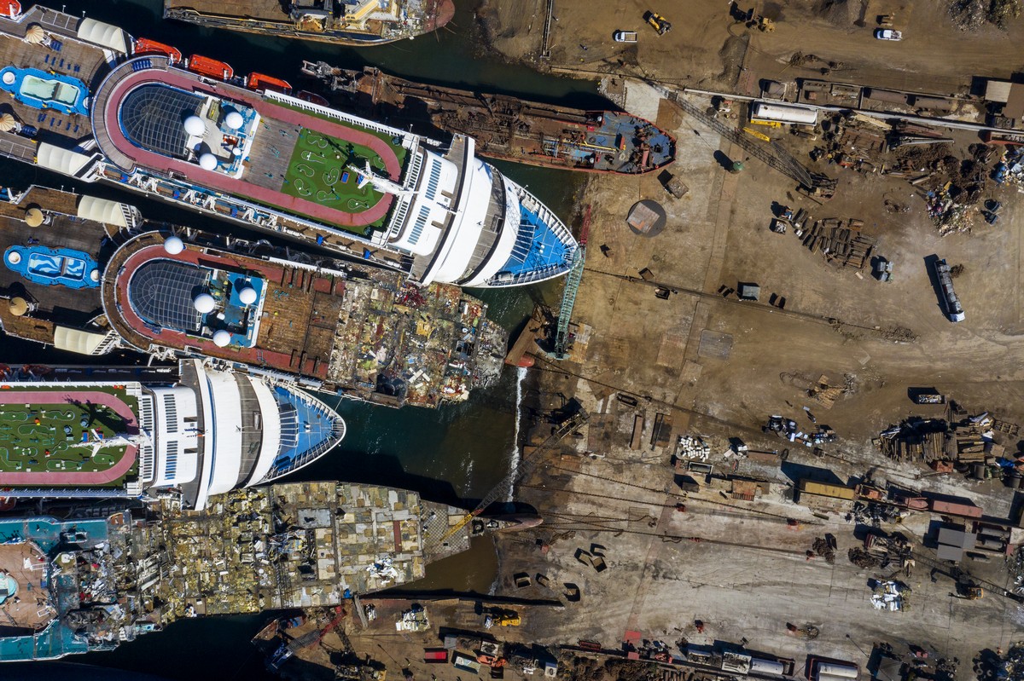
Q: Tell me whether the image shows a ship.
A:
Yes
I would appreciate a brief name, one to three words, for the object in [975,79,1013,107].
shed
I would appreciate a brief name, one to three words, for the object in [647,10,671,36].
work vehicle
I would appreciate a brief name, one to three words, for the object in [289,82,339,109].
boat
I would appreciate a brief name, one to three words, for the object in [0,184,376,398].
ship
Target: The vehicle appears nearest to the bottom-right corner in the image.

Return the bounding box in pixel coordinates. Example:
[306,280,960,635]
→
[931,582,990,596]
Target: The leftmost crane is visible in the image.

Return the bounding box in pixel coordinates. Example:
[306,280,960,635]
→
[258,608,350,677]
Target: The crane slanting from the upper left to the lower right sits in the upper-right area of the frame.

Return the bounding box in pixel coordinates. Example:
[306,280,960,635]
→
[743,126,837,200]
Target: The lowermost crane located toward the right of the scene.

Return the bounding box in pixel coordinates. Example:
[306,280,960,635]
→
[912,551,1024,612]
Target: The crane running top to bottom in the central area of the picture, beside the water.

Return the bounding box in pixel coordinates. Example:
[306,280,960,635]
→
[547,206,590,364]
